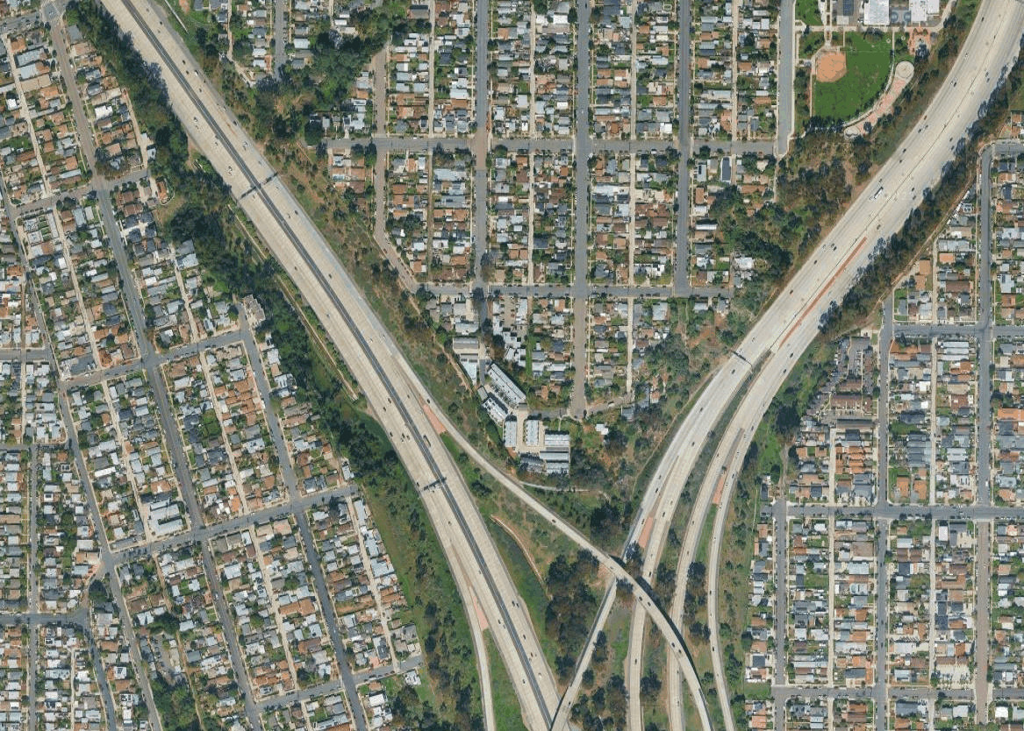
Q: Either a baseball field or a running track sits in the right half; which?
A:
baseball field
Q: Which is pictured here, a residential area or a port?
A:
residential area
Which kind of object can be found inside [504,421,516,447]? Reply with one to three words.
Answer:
building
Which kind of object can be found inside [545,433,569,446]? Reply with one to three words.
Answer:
building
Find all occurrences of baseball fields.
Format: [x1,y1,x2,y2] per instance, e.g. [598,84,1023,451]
[814,32,892,116]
